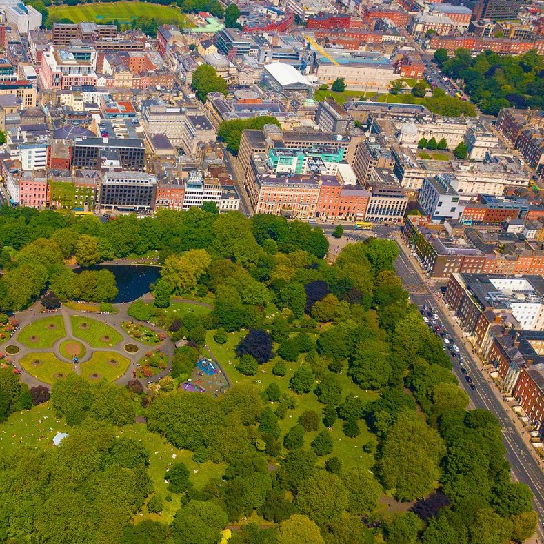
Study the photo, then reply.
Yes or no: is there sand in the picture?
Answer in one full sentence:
No, there is no sand in the image.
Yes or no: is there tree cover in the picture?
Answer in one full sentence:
Yes, there is tree cover in the image.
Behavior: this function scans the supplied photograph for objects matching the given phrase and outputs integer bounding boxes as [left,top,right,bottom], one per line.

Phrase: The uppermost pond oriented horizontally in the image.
[69,265,167,304]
